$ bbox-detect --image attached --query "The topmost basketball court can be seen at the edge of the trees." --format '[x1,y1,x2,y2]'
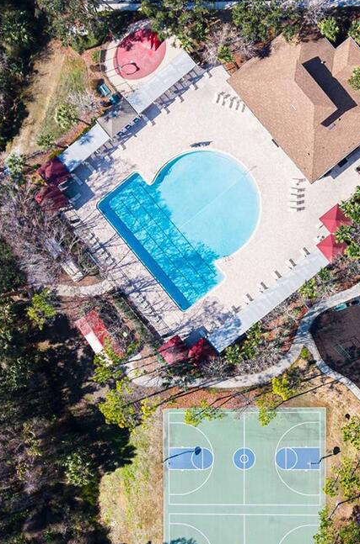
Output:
[163,408,325,510]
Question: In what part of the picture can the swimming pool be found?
center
